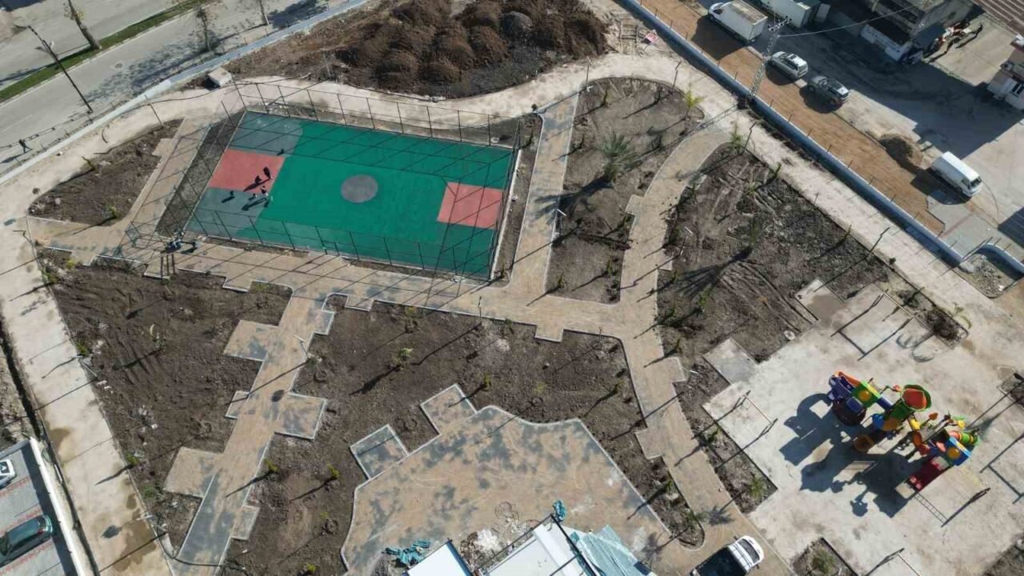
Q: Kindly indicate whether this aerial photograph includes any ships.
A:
No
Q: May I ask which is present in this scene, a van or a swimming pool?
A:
van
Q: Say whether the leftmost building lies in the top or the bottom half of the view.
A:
bottom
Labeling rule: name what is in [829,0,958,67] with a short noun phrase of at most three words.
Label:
building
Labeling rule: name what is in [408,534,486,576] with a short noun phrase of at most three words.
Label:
building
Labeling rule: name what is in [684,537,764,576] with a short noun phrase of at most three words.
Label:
truck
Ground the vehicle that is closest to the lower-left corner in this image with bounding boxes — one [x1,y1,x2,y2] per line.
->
[0,514,59,569]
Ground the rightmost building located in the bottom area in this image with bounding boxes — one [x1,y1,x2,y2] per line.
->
[469,513,598,576]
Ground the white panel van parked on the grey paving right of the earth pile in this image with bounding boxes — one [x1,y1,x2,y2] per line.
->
[930,147,987,196]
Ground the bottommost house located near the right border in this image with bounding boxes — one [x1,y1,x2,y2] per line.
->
[988,51,1024,105]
